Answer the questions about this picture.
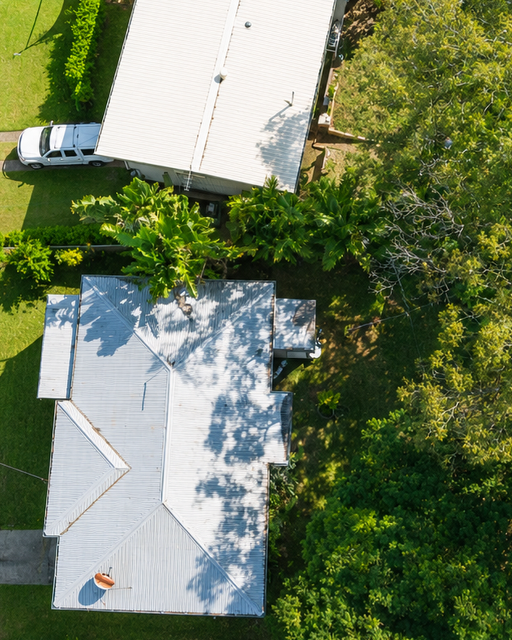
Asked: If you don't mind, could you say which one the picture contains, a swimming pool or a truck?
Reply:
truck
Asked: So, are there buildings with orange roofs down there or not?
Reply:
No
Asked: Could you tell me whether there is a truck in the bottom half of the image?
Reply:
No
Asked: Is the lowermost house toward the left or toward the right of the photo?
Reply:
left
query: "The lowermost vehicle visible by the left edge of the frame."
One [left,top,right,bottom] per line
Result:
[15,119,109,165]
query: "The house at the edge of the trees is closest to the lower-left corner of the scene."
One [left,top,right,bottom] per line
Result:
[36,272,316,619]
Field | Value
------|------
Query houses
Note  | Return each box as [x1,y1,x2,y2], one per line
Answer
[93,0,349,208]
[36,272,316,619]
